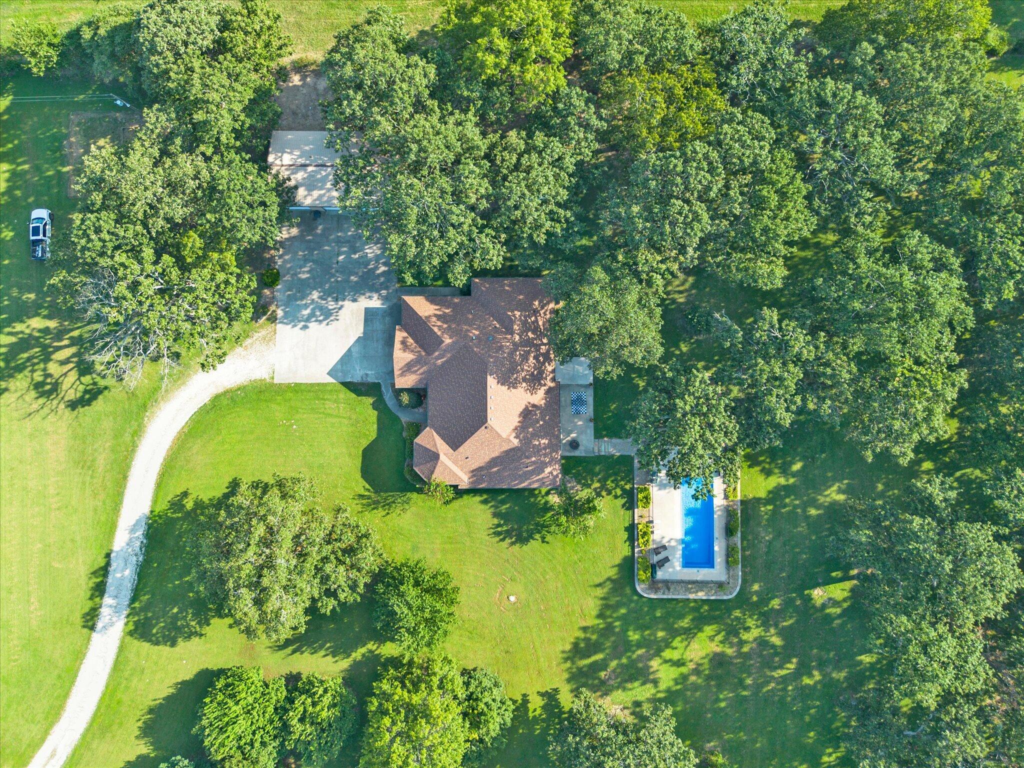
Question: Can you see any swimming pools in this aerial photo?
Yes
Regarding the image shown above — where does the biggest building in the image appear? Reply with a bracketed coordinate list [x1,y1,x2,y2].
[392,277,561,489]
